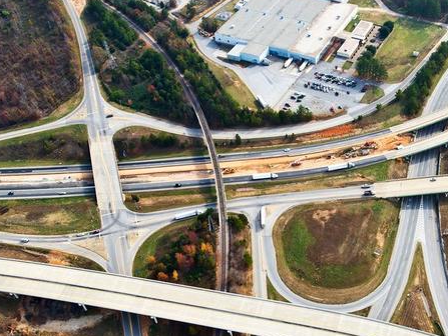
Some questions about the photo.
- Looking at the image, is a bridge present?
Yes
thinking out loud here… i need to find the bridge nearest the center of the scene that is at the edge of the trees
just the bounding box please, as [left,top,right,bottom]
[195,111,228,222]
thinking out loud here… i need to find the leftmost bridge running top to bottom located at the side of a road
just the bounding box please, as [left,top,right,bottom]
[88,138,125,207]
